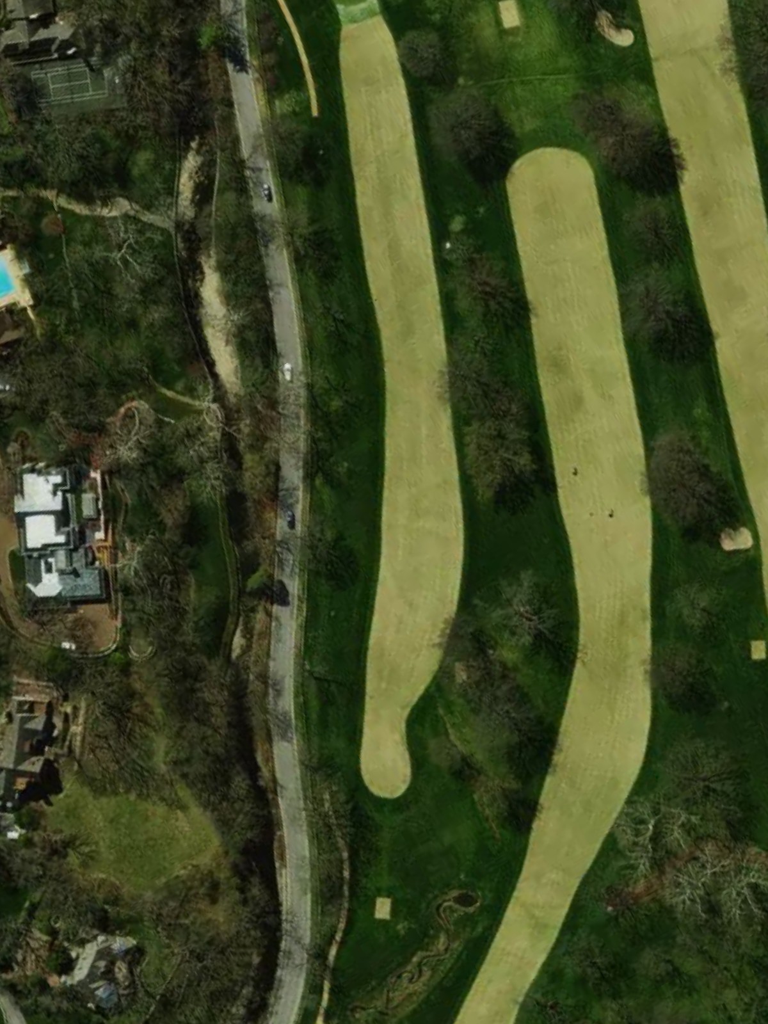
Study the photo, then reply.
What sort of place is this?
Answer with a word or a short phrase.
golf course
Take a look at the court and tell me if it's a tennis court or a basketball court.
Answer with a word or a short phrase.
tennis court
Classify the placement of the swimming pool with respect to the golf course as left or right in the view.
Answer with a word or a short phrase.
left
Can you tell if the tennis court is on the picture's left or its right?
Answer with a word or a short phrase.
left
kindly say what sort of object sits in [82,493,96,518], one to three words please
building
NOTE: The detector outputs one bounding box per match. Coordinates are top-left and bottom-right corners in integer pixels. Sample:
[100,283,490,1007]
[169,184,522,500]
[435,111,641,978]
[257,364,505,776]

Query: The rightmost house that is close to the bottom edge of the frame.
[61,934,136,1008]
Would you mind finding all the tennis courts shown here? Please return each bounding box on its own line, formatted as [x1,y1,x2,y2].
[14,49,133,119]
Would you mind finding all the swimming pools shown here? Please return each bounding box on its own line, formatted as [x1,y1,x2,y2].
[0,245,33,308]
